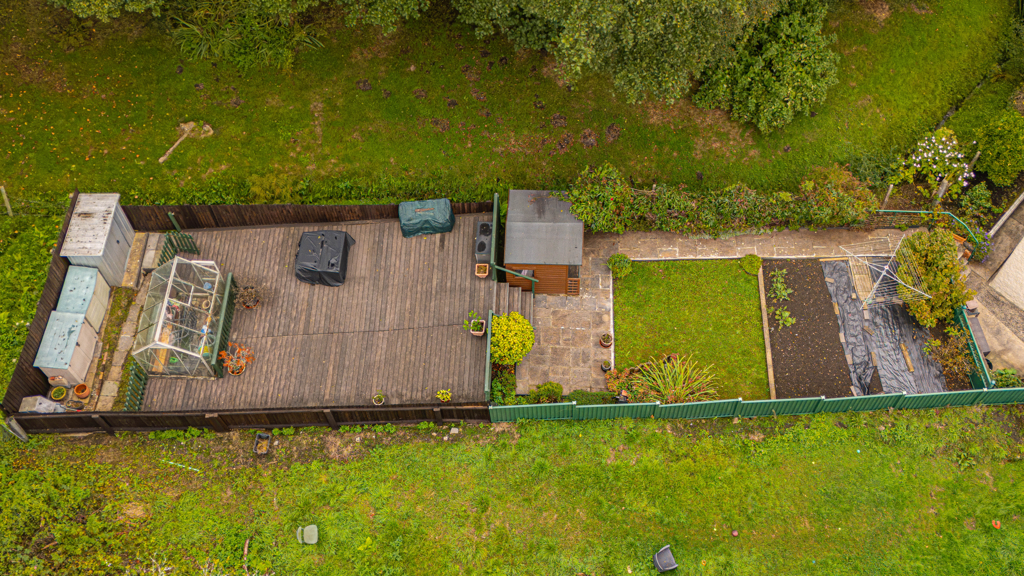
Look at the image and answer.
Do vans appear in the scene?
No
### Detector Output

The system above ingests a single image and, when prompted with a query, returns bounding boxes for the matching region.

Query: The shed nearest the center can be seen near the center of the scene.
[503,196,585,295]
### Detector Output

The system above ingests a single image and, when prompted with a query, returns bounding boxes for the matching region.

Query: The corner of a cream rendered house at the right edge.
[988,234,1024,313]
